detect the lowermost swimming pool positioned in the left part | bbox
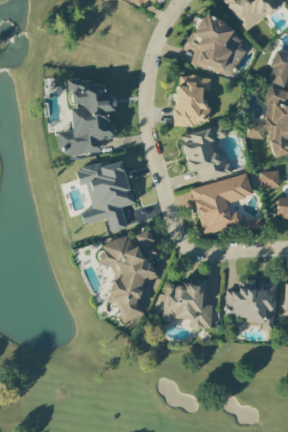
[76,245,119,318]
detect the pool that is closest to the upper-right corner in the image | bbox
[267,2,288,33]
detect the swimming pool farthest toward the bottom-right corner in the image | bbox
[238,324,270,342]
